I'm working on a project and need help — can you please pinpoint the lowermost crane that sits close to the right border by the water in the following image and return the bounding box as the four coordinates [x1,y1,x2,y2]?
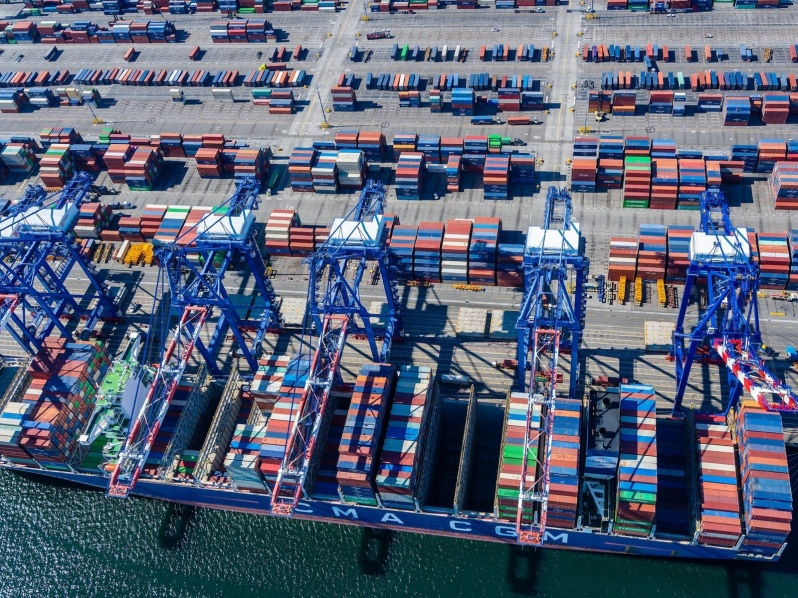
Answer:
[663,193,798,420]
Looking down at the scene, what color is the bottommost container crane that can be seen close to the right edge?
blue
